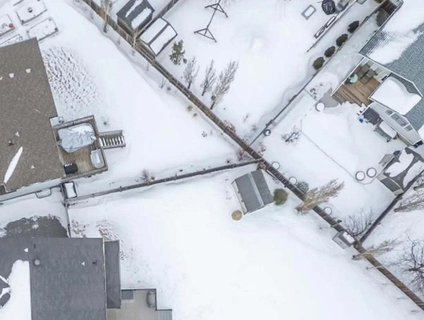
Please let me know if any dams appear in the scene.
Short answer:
No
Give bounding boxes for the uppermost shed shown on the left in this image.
[116,0,155,36]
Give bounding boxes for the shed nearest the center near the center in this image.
[232,169,274,216]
